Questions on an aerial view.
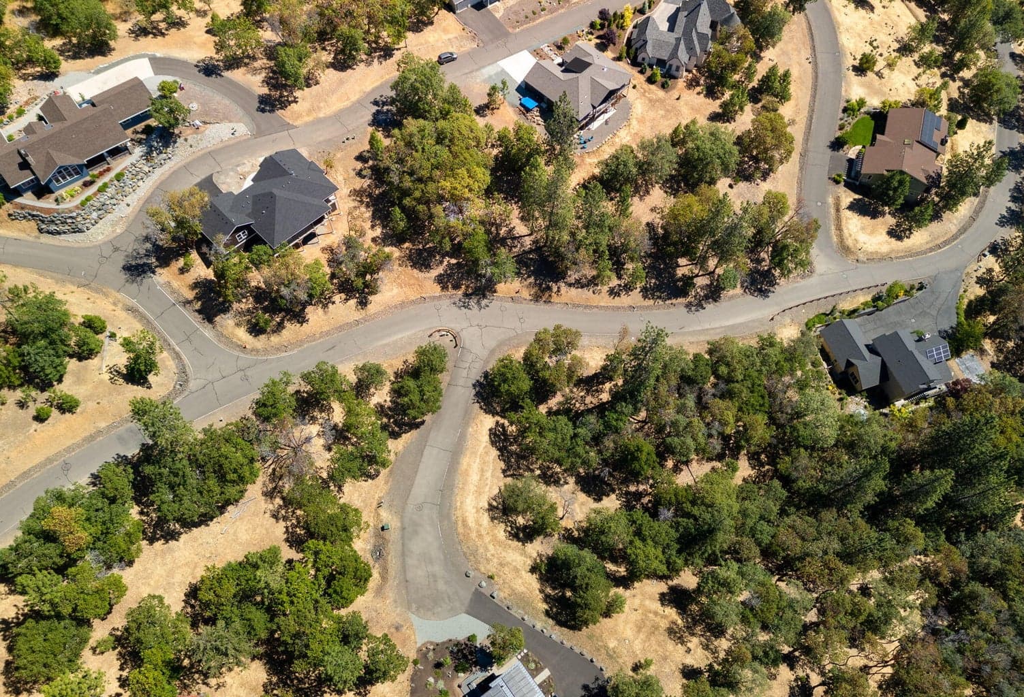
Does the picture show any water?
No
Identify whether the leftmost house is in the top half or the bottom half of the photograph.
top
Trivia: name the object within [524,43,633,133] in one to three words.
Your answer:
house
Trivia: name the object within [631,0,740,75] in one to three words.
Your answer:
house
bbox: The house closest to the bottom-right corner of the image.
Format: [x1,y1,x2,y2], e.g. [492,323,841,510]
[816,320,957,407]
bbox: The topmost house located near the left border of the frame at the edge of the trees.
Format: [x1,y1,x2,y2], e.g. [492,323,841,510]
[0,79,152,194]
